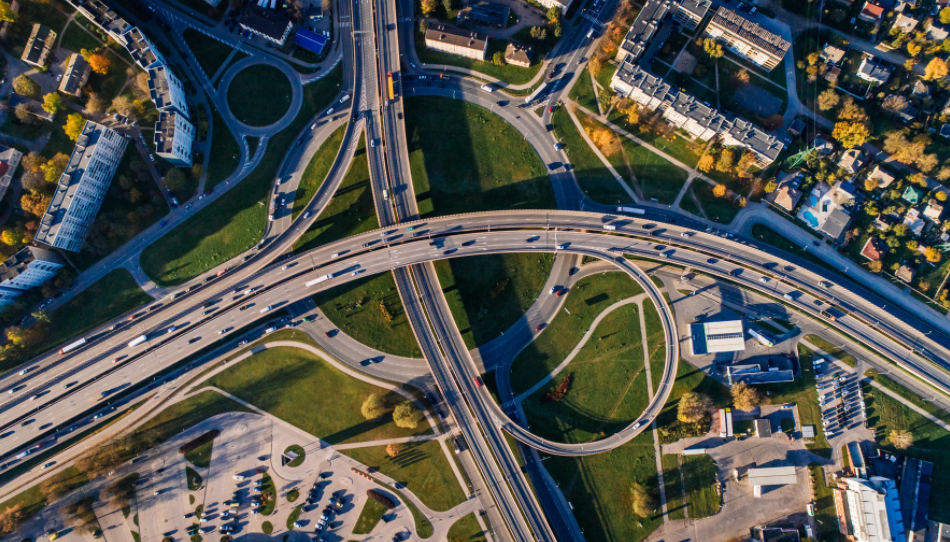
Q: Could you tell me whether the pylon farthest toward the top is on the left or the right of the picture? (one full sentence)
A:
It is on the right.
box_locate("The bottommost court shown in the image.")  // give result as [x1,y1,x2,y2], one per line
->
[734,81,783,118]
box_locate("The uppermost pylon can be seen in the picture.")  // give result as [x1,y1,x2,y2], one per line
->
[778,149,815,170]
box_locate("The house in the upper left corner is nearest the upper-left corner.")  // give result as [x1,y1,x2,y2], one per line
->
[21,22,58,69]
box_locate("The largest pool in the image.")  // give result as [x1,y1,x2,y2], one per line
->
[802,211,820,227]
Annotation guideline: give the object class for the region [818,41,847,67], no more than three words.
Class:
house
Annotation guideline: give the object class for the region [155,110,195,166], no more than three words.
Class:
building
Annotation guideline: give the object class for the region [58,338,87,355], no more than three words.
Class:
vehicle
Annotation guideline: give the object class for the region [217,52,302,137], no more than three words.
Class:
roundabout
